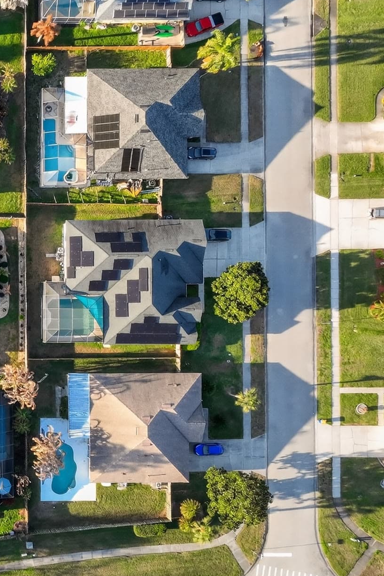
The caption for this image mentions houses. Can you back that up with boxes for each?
[86,67,208,178]
[94,0,191,22]
[88,373,205,483]
[64,220,205,344]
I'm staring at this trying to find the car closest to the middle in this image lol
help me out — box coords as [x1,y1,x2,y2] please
[204,228,231,243]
